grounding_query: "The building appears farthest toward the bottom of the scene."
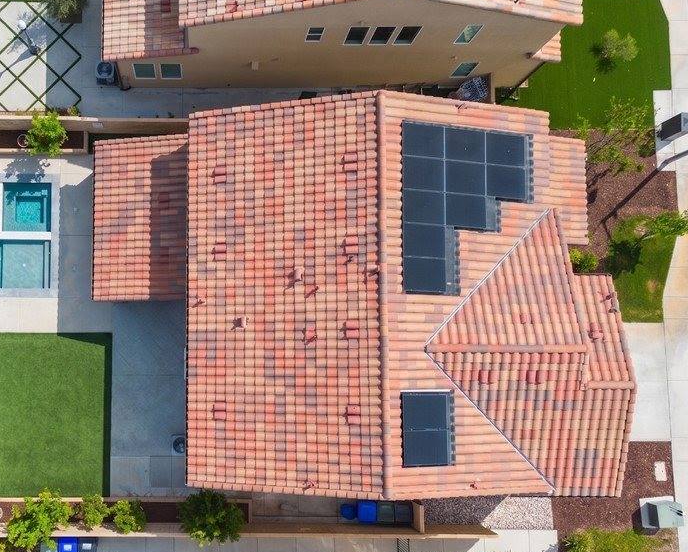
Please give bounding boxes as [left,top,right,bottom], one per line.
[90,90,643,498]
